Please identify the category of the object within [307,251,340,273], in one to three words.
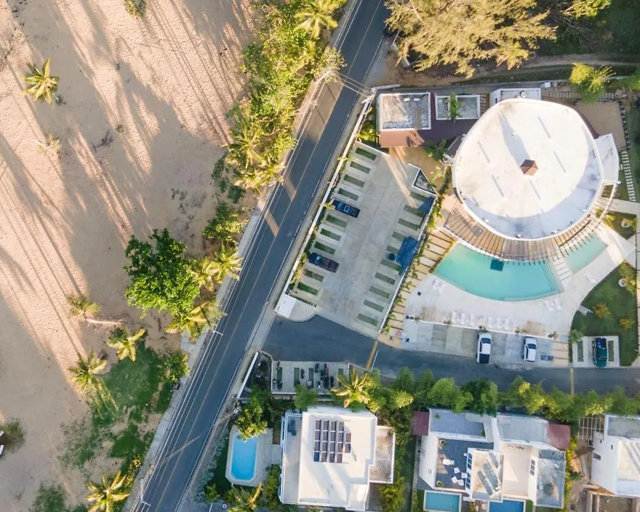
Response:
car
